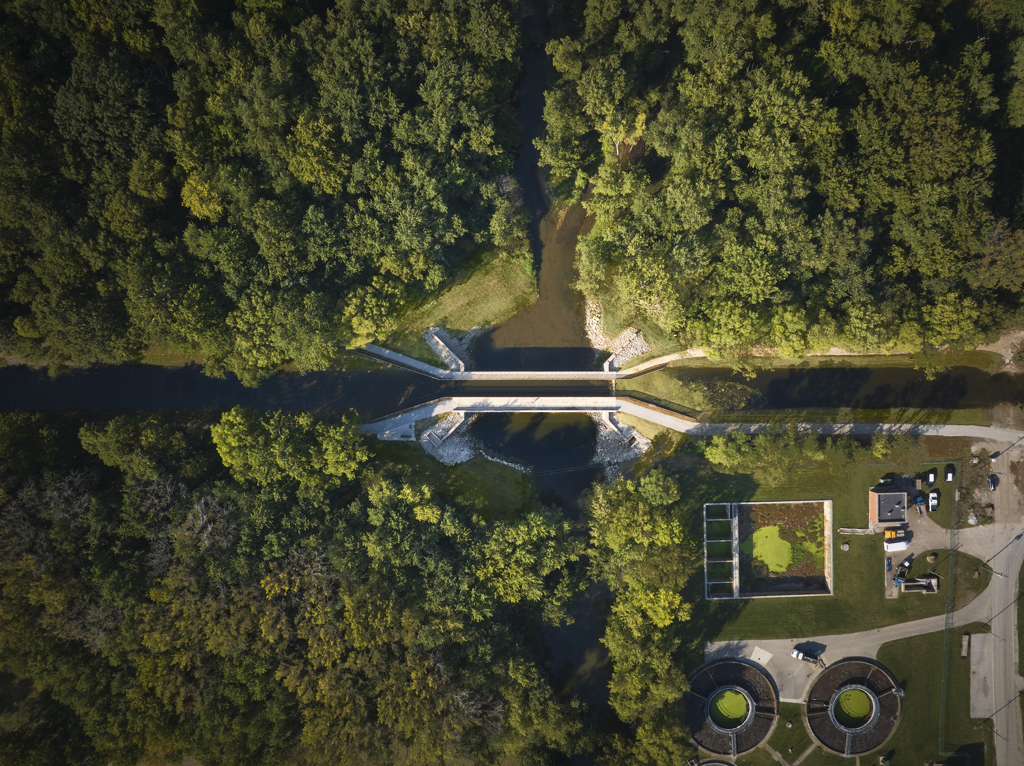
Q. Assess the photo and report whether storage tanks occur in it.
Yes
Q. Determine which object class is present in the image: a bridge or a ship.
bridge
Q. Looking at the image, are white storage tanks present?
No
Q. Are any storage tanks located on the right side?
Yes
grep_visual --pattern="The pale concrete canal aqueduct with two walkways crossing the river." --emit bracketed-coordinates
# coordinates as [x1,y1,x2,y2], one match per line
[432,330,641,444]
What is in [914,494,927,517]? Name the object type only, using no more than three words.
vehicle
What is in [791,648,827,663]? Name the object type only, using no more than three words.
vehicle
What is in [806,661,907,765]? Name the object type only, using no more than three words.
storage tank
